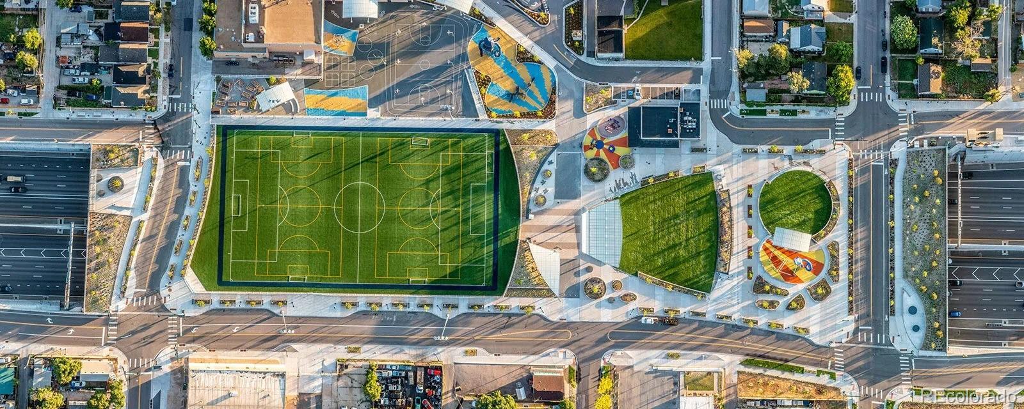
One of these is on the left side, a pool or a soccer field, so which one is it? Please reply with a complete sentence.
There is a soccer field on the left side.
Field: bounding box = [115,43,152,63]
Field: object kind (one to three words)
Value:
house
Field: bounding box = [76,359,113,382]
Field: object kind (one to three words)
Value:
house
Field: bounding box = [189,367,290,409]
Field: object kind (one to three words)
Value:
building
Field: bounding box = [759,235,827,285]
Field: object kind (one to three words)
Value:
playground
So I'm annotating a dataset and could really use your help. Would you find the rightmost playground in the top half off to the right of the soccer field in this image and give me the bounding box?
[582,114,632,176]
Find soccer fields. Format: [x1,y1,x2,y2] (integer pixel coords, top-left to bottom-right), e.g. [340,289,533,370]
[190,124,520,295]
